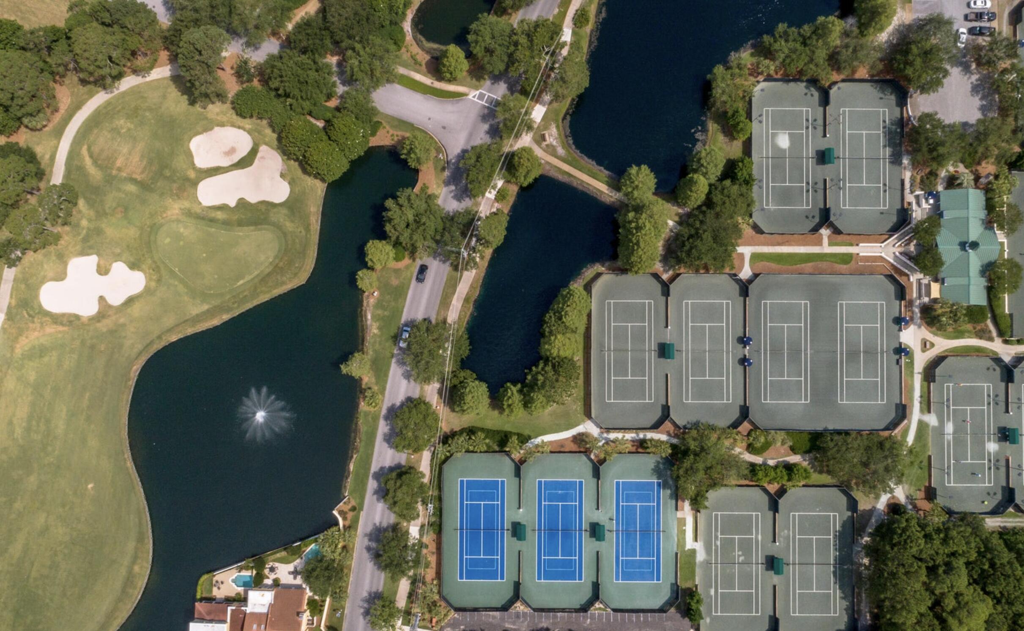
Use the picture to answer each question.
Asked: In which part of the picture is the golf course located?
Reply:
left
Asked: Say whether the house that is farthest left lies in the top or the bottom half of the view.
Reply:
bottom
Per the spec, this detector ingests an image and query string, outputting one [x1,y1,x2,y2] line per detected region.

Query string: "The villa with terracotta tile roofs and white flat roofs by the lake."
[189,581,312,631]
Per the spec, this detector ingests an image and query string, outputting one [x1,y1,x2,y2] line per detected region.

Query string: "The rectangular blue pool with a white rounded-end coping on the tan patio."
[229,573,250,589]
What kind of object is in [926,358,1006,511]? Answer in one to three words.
tennis court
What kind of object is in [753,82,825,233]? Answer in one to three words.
tennis court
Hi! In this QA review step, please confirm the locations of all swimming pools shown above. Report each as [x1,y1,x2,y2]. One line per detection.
[301,542,324,564]
[229,573,250,589]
